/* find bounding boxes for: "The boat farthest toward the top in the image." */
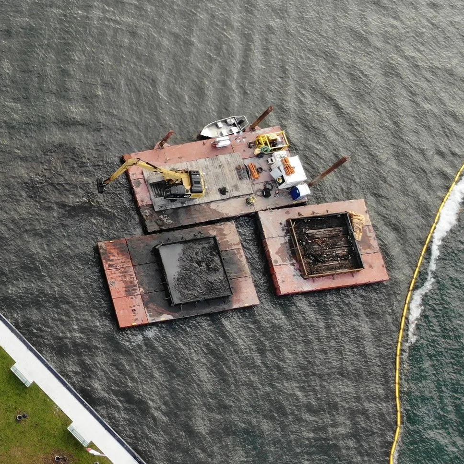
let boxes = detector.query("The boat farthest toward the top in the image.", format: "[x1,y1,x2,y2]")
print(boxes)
[198,115,245,139]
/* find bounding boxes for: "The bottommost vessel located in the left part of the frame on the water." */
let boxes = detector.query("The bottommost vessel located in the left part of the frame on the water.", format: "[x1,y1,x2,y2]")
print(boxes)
[95,223,259,330]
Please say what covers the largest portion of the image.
water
